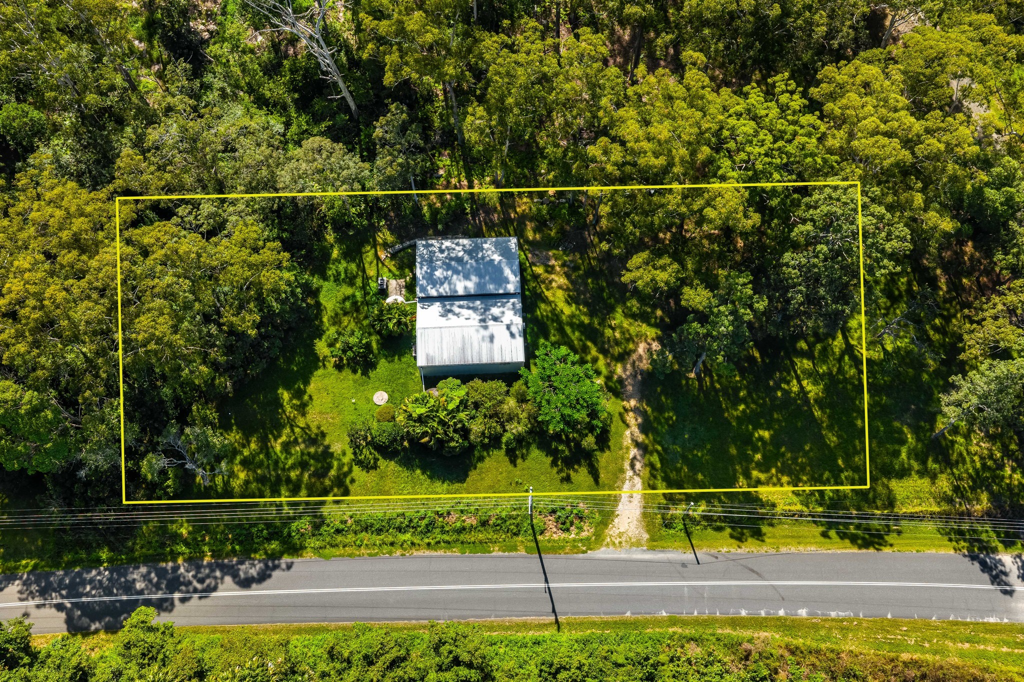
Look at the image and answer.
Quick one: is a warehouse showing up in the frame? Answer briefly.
No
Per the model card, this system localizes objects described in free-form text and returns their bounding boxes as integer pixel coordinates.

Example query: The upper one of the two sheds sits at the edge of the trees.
[416,236,520,299]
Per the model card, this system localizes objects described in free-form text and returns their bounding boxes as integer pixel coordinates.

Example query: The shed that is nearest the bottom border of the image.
[416,293,526,391]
